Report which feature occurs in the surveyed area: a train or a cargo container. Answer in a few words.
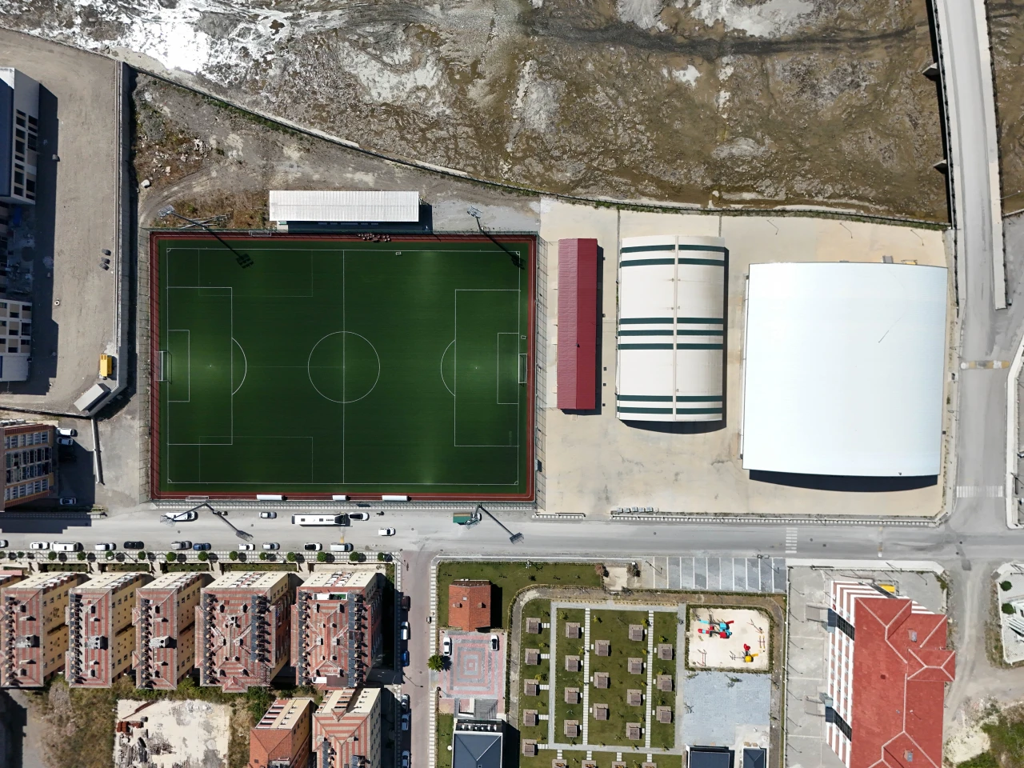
cargo container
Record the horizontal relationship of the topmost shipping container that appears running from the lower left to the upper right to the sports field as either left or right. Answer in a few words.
to its left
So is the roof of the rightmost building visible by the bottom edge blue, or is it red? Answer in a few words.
red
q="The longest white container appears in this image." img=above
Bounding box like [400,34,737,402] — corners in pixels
[75,384,110,411]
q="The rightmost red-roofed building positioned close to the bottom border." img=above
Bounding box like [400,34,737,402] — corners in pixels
[819,583,956,768]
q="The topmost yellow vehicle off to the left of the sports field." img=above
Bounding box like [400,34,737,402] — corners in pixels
[99,355,113,379]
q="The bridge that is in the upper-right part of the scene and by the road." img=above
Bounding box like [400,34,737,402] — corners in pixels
[918,0,1007,231]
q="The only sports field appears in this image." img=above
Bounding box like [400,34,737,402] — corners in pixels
[149,231,535,503]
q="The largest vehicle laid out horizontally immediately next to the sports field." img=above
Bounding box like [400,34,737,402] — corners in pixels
[292,514,347,527]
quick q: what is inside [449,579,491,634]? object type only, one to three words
house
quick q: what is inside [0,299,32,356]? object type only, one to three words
building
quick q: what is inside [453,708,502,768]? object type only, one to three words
house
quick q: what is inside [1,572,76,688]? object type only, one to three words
building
